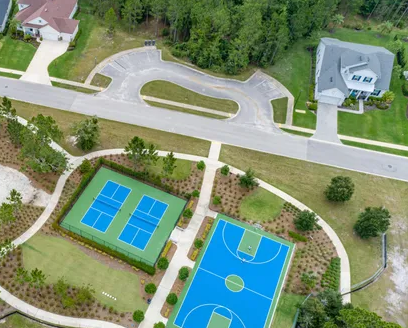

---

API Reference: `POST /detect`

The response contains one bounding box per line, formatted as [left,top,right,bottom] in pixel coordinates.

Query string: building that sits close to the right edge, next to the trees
[317,40,401,107]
